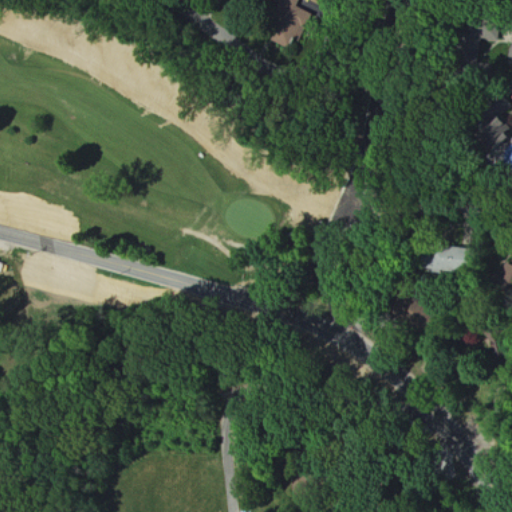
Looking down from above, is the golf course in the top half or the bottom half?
top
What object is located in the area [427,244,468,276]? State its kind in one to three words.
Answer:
house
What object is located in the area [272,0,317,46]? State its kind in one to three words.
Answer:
house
